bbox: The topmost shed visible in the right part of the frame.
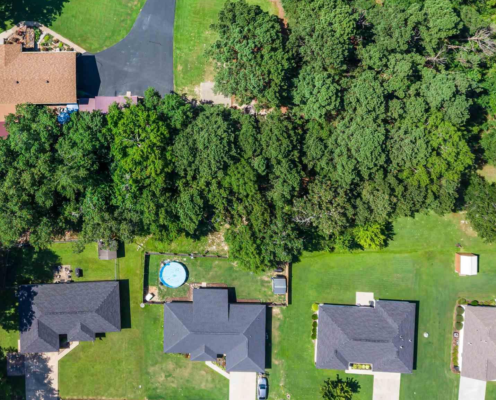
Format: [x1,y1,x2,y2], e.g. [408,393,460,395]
[455,254,477,275]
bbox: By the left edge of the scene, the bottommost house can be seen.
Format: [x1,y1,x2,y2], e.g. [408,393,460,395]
[20,279,121,352]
